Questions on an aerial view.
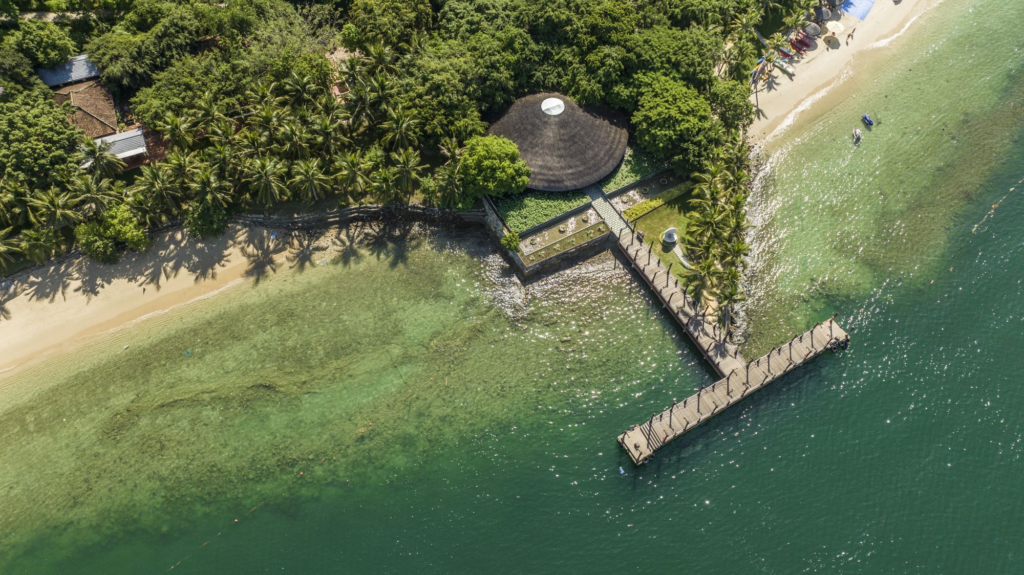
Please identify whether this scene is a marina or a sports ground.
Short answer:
marina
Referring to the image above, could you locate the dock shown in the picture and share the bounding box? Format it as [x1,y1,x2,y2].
[616,231,853,468]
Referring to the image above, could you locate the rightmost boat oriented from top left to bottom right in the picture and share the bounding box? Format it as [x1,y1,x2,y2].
[859,111,875,126]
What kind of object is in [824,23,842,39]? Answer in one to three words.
umbrella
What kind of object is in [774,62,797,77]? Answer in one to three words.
boat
